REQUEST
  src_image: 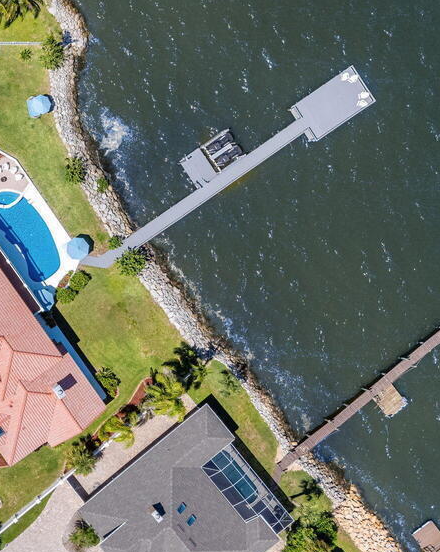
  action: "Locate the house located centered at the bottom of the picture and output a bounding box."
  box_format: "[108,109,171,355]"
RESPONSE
[79,403,279,552]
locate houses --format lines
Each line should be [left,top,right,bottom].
[0,249,109,467]
[79,403,279,552]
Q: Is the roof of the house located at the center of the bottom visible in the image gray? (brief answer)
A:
Yes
